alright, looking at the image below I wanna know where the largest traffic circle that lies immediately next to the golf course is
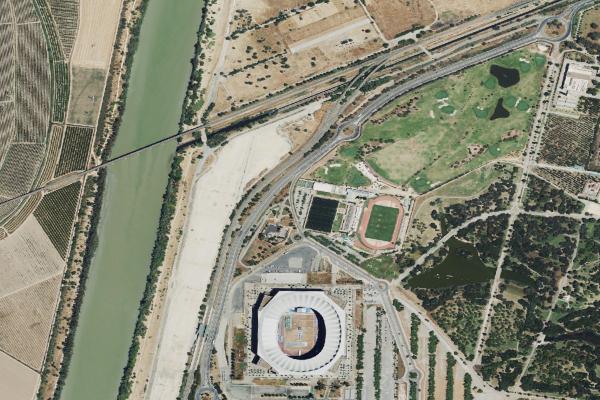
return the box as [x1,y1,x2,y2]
[539,16,572,42]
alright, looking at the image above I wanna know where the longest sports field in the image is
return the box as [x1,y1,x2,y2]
[294,178,420,252]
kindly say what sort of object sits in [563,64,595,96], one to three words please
building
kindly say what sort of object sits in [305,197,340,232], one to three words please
soccer field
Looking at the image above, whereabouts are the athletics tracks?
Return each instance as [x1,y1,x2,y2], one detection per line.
[359,193,405,252]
